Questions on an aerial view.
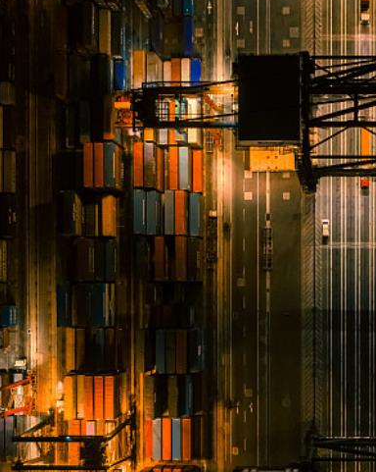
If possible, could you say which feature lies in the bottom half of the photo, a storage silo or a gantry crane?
gantry crane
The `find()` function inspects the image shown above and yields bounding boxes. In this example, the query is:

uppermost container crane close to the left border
[0,370,37,422]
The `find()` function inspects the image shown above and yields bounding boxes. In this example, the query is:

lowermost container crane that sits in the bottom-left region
[6,416,134,472]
